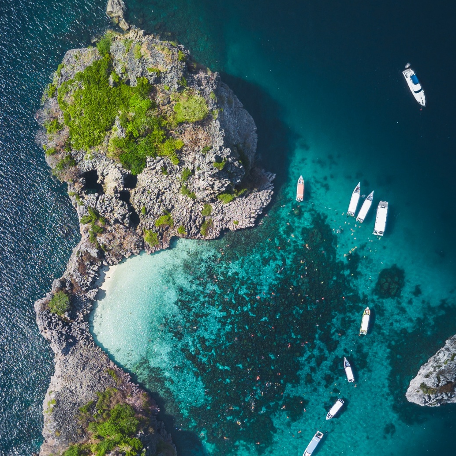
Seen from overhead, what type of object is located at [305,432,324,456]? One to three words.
boat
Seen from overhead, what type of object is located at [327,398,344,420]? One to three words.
boat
